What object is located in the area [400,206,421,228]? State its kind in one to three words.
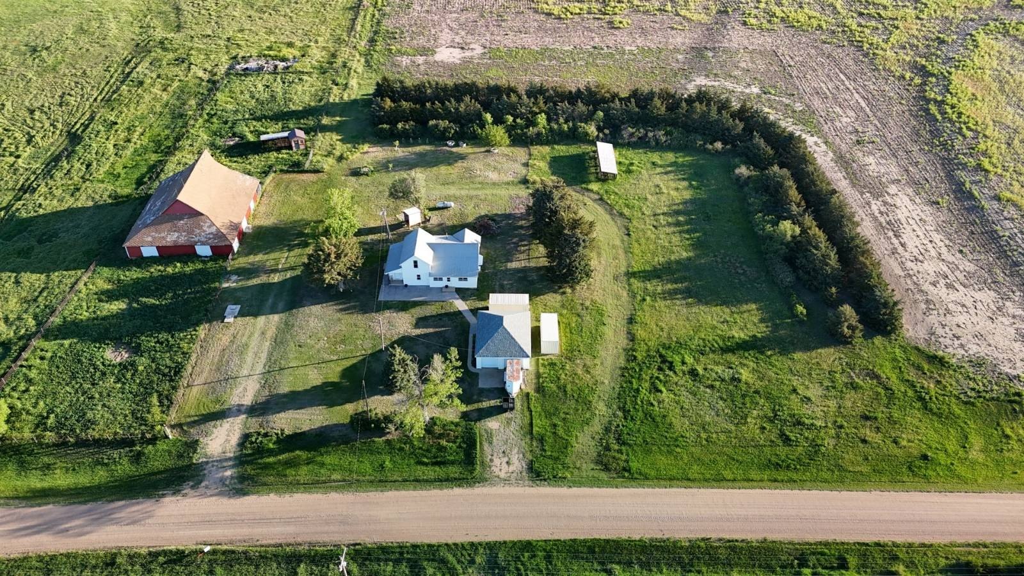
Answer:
shed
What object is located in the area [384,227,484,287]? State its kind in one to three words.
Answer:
house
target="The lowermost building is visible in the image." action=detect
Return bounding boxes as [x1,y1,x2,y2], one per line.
[475,311,531,368]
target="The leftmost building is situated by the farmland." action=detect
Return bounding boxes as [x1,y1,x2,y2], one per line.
[122,151,264,256]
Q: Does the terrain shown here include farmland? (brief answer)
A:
Yes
